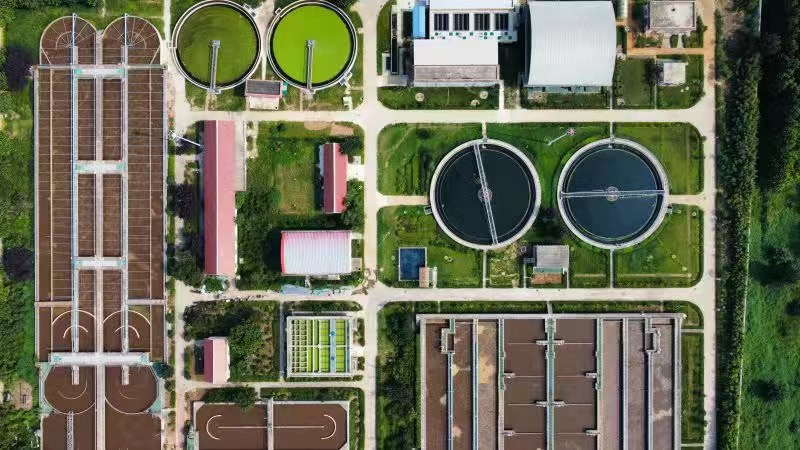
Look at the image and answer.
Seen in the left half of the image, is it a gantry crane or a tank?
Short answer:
tank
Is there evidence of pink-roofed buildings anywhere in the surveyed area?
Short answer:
Yes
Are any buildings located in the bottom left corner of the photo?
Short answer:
Yes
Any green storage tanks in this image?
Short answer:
Yes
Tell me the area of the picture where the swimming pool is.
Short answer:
center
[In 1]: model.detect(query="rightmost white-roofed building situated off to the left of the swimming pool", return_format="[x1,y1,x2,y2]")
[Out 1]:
[280,231,351,280]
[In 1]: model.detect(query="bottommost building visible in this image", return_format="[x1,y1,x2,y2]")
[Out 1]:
[204,336,231,386]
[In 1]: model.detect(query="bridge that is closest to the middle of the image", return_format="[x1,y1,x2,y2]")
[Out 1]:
[473,141,498,246]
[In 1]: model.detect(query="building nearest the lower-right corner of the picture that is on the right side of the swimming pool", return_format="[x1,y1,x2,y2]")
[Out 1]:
[521,245,569,272]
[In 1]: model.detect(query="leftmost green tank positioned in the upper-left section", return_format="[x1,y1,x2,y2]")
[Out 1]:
[167,0,263,94]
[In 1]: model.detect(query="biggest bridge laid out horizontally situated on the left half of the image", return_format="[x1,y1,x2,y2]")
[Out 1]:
[47,352,150,365]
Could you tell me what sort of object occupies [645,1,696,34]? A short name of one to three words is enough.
house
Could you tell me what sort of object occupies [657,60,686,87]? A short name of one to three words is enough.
shed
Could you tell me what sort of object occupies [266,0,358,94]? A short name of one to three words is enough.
storage tank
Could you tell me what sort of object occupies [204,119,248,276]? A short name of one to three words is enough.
building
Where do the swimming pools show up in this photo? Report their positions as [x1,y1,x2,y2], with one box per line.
[398,247,427,281]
